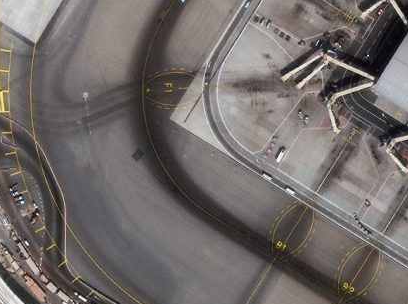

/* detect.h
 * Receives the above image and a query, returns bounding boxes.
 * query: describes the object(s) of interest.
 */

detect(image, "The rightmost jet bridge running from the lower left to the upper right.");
[359,0,388,20]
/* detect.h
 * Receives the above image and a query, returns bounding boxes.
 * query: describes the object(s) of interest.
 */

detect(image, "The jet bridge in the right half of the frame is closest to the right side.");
[386,150,408,175]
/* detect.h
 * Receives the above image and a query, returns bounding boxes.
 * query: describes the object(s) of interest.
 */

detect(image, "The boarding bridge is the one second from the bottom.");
[326,103,339,135]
